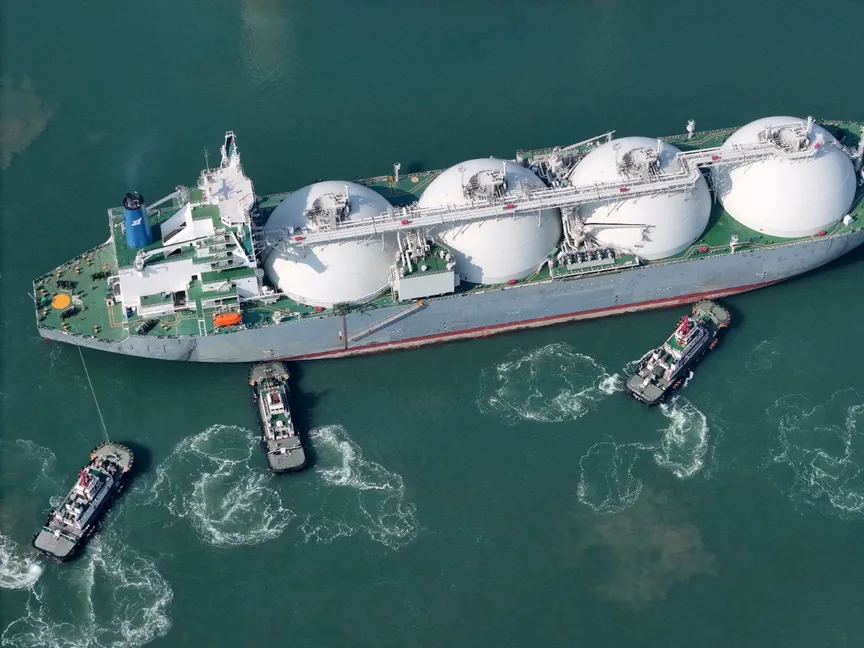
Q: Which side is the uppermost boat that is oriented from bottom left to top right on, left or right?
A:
right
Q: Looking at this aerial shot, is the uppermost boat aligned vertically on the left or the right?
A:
left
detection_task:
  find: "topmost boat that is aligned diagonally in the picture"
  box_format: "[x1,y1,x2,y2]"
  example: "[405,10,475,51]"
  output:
[629,300,730,410]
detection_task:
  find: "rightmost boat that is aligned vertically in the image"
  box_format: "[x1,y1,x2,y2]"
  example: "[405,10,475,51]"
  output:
[251,358,305,482]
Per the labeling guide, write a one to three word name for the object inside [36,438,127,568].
boat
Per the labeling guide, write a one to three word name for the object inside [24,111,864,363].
ship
